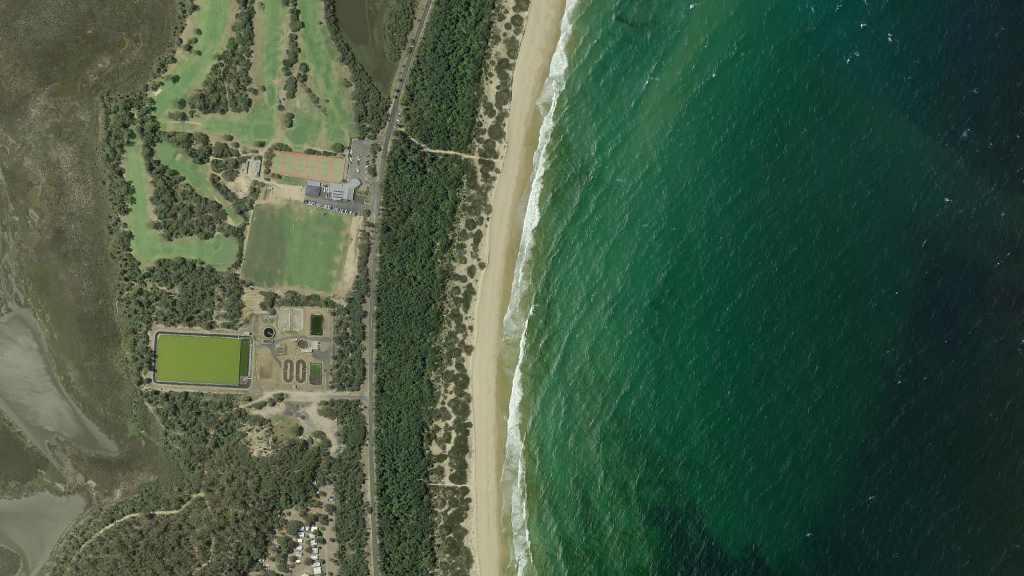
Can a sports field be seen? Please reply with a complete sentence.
Yes, a sports field can be made out from above.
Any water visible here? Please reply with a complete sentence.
Yes, water can be seen from above here.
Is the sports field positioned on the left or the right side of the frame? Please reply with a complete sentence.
The sports field sits on the left side.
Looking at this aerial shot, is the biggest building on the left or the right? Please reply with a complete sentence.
It is on the left.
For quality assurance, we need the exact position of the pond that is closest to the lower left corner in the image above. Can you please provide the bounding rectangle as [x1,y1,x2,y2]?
[151,329,255,390]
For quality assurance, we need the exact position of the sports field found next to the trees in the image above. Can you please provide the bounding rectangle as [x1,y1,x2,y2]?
[243,177,354,293]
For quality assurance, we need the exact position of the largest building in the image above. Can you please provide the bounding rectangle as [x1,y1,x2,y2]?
[329,179,361,201]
